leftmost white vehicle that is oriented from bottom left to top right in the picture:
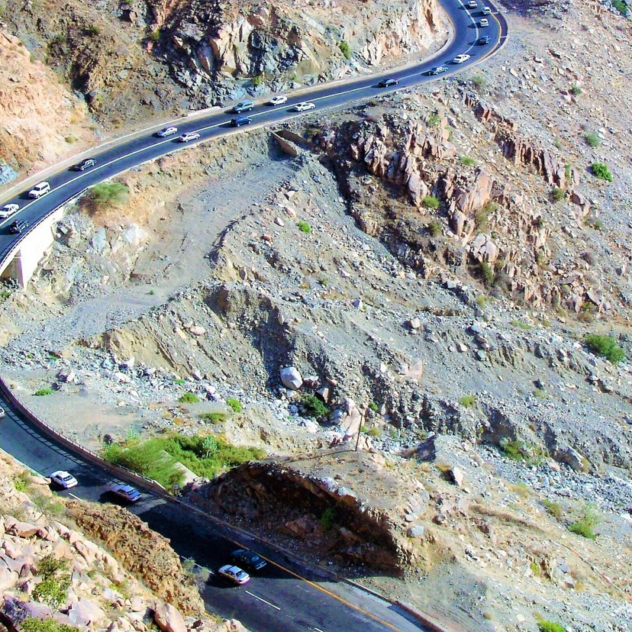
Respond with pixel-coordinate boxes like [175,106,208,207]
[0,204,20,222]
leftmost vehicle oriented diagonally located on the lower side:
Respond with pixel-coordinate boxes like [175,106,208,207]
[48,470,80,492]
